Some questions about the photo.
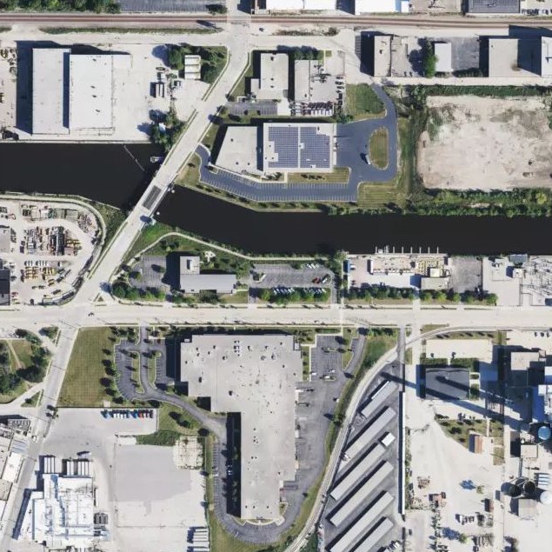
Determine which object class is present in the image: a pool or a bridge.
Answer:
bridge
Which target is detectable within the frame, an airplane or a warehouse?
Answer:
warehouse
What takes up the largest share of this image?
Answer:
paved ground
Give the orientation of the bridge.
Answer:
diagonally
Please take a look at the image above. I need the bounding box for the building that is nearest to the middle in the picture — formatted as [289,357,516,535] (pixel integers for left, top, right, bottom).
[179,256,235,293]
